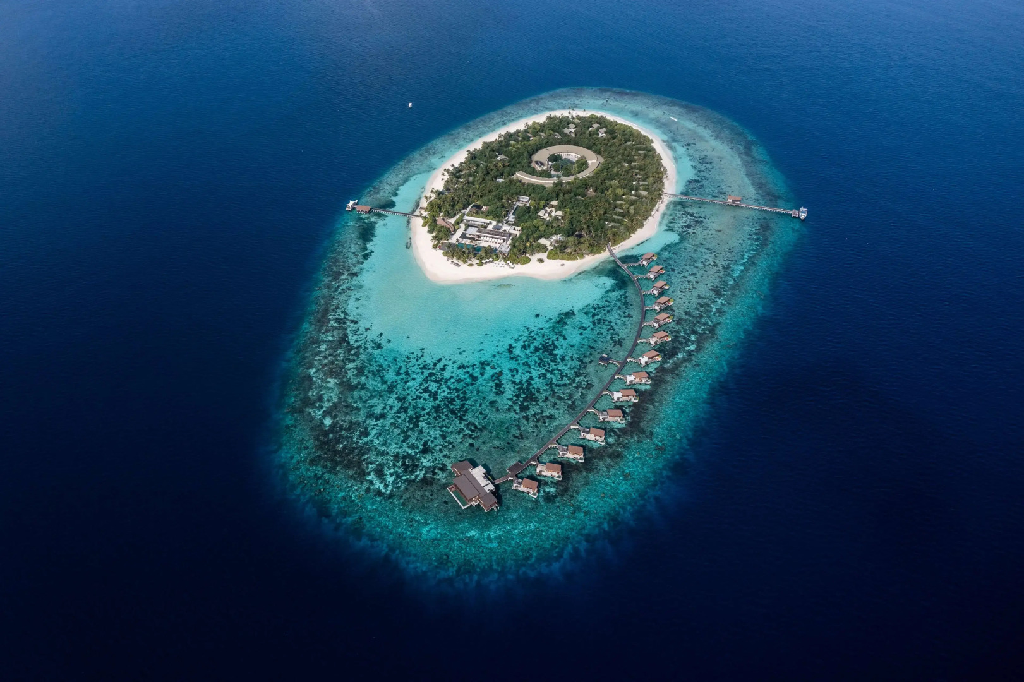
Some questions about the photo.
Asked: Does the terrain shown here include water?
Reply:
Yes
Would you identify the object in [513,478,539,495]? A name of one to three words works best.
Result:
house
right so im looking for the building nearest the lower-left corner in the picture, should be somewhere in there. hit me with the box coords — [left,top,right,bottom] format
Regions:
[447,460,499,514]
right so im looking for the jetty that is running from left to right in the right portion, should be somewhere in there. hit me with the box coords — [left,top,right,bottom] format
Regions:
[662,193,793,215]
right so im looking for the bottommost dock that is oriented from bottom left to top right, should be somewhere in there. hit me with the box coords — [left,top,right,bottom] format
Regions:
[492,243,645,485]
